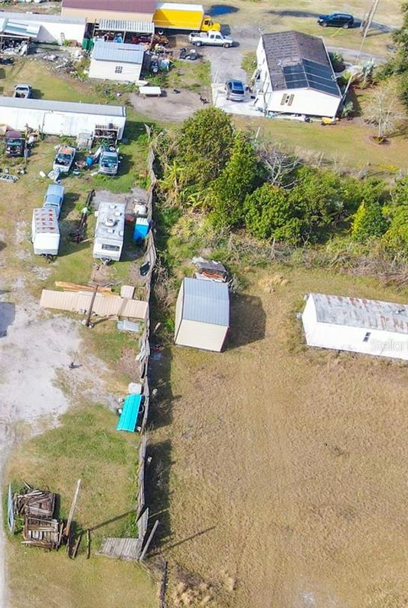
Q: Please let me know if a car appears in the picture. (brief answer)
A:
Yes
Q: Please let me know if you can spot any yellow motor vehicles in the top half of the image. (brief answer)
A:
Yes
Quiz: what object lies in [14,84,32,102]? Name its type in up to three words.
car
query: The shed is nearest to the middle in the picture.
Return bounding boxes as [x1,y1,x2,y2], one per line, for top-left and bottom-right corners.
[173,284,235,351]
